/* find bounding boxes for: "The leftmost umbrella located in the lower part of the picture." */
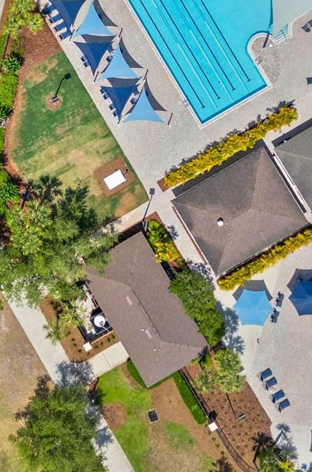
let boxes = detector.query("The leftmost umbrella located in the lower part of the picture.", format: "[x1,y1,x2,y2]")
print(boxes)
[232,289,272,325]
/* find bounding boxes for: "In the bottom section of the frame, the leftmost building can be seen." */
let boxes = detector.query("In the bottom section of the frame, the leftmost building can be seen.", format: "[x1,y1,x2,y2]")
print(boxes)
[86,231,210,389]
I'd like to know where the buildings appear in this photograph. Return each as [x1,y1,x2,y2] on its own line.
[86,231,210,389]
[171,147,310,278]
[274,127,312,213]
